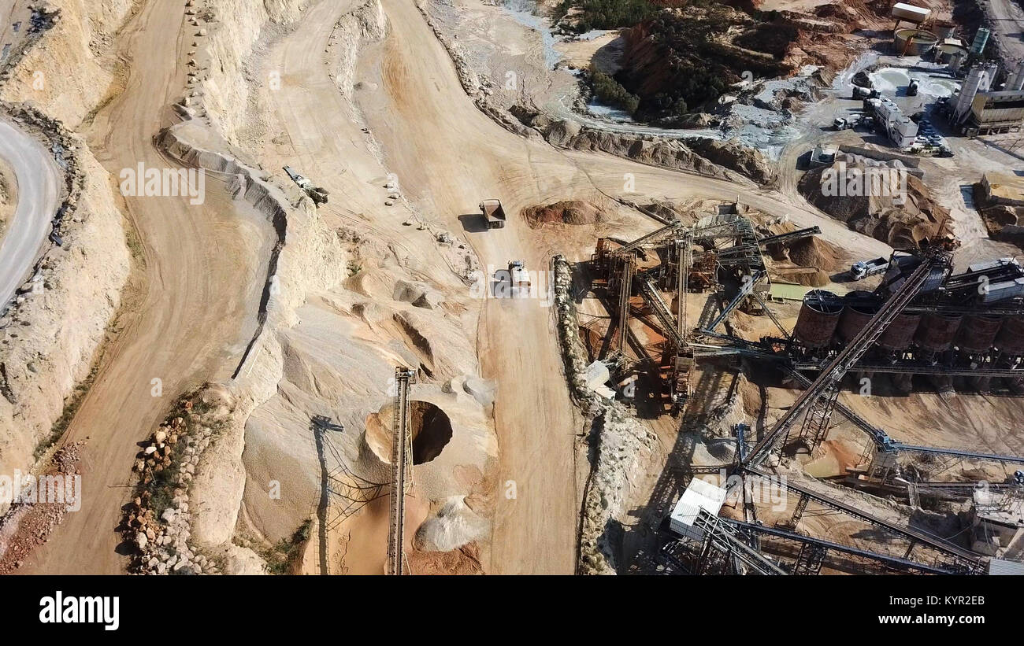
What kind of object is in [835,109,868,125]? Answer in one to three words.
vehicle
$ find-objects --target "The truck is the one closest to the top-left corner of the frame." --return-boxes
[482,194,508,231]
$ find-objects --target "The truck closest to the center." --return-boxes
[508,256,530,295]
